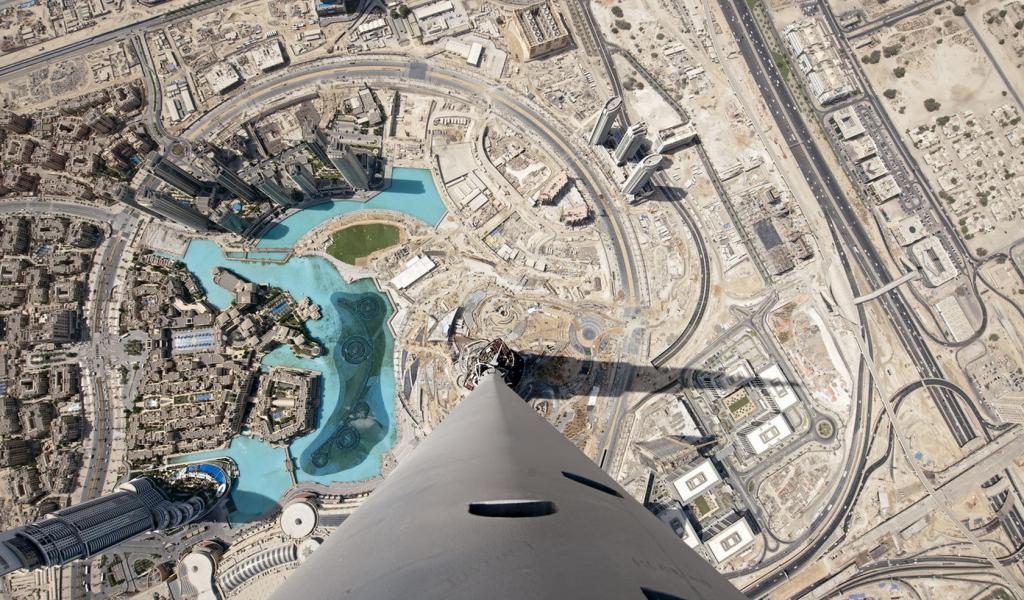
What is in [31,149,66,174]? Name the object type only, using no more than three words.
building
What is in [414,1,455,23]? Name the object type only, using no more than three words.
building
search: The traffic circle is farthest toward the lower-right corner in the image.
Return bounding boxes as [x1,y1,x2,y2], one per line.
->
[811,414,839,444]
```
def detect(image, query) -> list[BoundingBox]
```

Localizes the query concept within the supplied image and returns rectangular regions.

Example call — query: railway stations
[821,263,852,303]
